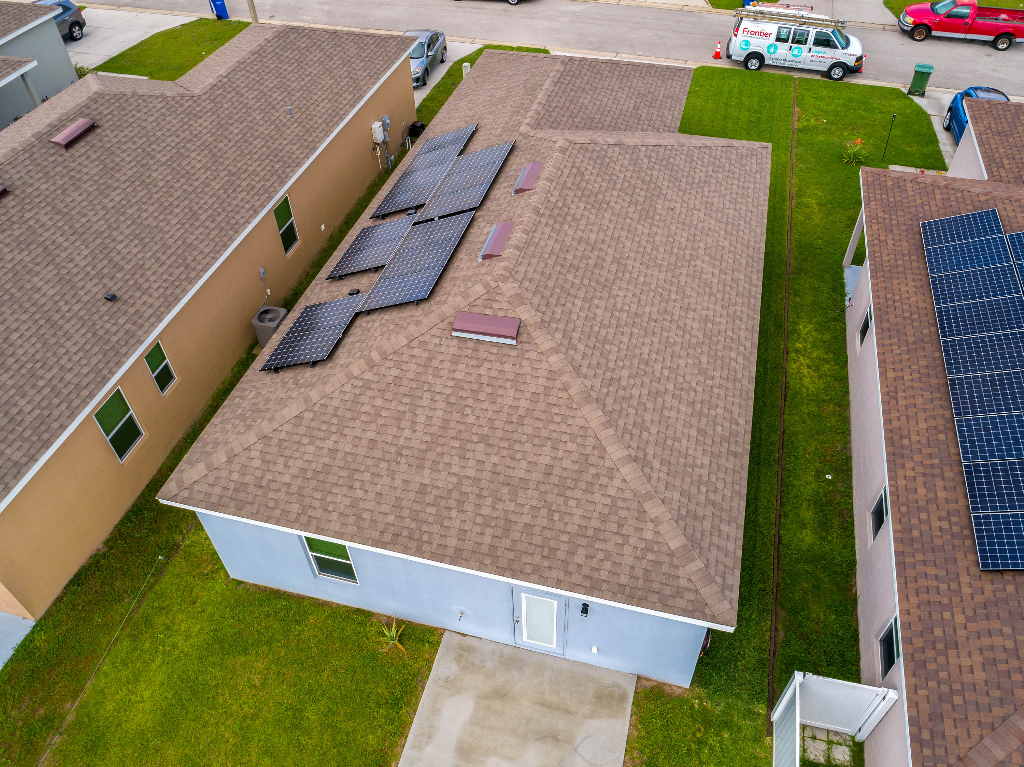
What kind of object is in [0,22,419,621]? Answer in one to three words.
house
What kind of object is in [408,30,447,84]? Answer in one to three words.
car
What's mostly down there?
buildings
